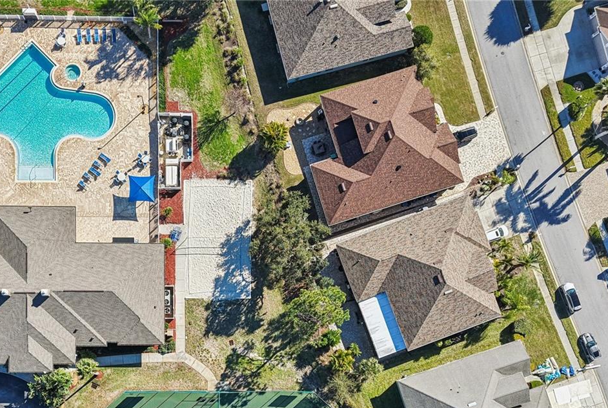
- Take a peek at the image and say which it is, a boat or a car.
car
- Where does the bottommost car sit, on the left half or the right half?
right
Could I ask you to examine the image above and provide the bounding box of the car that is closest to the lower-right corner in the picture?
[576,331,601,362]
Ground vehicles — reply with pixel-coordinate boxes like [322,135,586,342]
[453,125,480,143]
[485,224,510,241]
[556,283,583,315]
[576,331,601,362]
